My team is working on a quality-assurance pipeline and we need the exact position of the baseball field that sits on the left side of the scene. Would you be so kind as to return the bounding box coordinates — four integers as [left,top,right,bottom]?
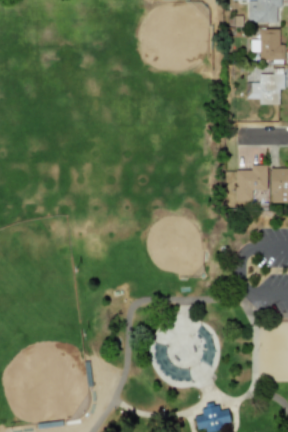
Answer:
[0,215,90,424]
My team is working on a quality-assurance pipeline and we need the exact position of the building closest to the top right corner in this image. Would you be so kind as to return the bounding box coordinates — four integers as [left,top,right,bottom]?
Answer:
[250,0,284,24]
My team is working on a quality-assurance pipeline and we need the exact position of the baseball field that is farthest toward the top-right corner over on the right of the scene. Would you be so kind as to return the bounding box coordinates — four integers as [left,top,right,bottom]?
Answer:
[139,0,214,72]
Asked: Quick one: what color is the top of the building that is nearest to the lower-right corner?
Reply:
blue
